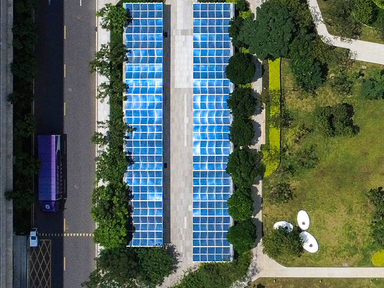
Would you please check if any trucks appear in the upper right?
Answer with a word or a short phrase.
No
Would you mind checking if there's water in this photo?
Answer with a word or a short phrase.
No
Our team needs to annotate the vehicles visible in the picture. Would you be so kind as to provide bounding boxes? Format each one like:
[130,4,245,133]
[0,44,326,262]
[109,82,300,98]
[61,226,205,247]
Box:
[38,134,64,211]
[28,228,40,247]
